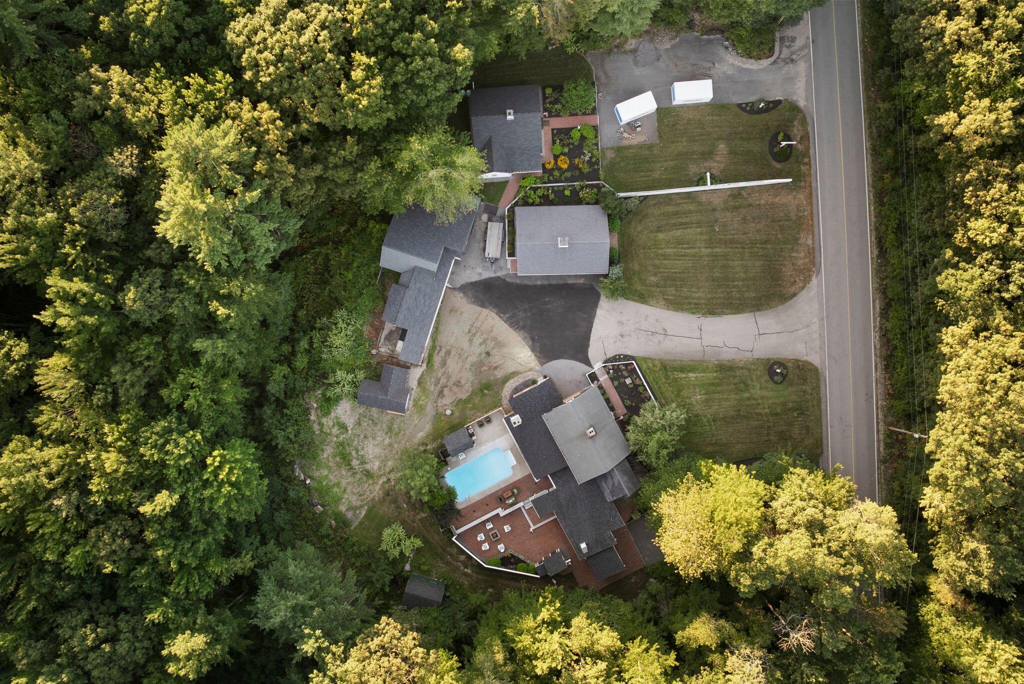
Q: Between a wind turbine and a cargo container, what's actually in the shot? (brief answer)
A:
cargo container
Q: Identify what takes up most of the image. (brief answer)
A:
trees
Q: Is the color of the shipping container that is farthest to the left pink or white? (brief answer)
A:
white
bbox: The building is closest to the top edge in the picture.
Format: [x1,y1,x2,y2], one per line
[471,85,545,182]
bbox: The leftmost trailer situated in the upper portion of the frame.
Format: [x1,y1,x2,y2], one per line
[483,217,506,265]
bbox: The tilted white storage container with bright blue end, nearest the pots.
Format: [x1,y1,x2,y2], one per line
[617,87,658,122]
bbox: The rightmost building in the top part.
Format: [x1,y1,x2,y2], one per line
[516,205,610,276]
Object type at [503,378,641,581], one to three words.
house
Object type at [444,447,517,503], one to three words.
swimming pool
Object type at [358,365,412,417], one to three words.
shed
